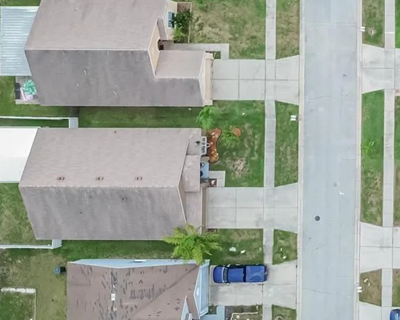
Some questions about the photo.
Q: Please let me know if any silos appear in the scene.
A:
No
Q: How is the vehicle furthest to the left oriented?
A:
horizontally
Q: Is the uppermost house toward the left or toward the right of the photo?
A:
left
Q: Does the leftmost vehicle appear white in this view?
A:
No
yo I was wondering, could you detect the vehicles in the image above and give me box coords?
[215,265,268,285]
[389,309,400,320]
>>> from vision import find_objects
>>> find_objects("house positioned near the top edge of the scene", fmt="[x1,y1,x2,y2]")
[20,0,214,106]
